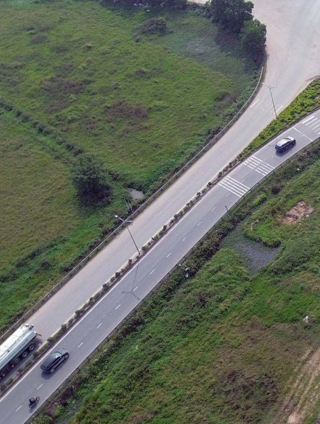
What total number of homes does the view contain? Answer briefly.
none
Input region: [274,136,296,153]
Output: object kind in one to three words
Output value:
car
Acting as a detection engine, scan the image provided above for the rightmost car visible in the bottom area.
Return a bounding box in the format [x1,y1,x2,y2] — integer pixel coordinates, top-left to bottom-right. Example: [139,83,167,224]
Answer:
[41,348,69,373]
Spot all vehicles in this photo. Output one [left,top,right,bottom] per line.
[28,398,37,408]
[41,348,69,373]
[274,136,296,153]
[0,327,31,366]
